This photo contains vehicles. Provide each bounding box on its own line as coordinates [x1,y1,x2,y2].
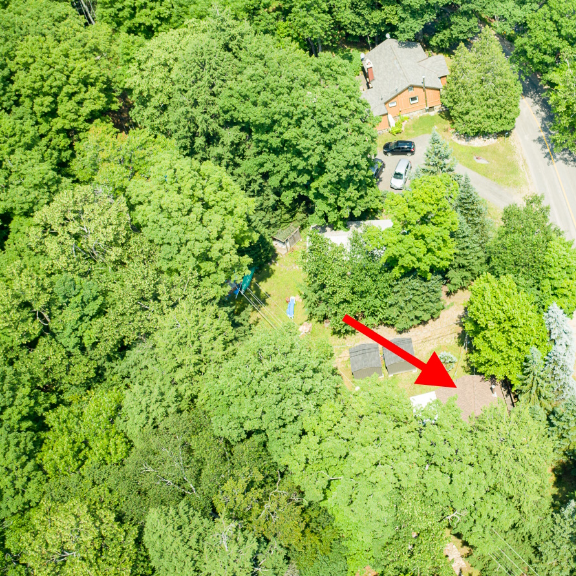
[390,158,412,189]
[382,140,416,156]
[367,155,384,182]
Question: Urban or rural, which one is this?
rural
